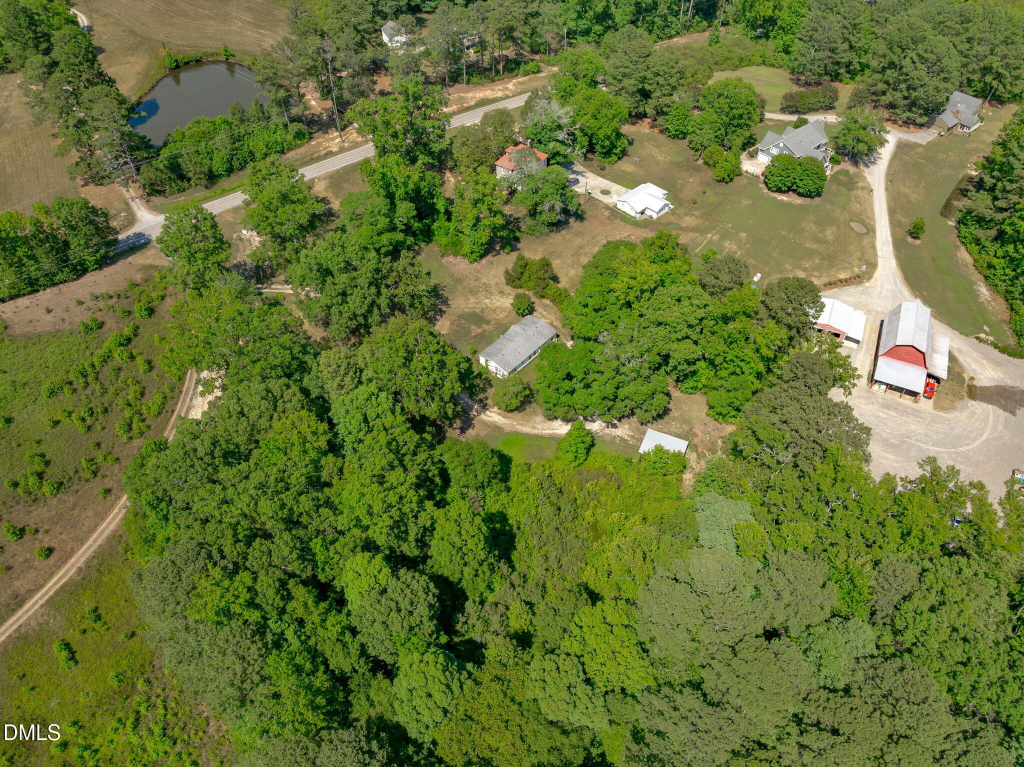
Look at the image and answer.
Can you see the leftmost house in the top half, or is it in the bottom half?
top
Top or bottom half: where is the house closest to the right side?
top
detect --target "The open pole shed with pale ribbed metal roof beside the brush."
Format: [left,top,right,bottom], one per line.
[637,429,689,461]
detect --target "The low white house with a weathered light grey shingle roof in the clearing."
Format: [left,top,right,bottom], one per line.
[478,316,558,381]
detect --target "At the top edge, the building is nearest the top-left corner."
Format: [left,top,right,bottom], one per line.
[382,17,413,47]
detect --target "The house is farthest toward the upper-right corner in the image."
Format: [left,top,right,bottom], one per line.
[929,91,986,136]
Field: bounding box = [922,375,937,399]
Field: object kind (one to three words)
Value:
vehicle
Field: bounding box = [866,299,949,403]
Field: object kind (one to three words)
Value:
barn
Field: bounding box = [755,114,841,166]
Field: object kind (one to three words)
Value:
house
